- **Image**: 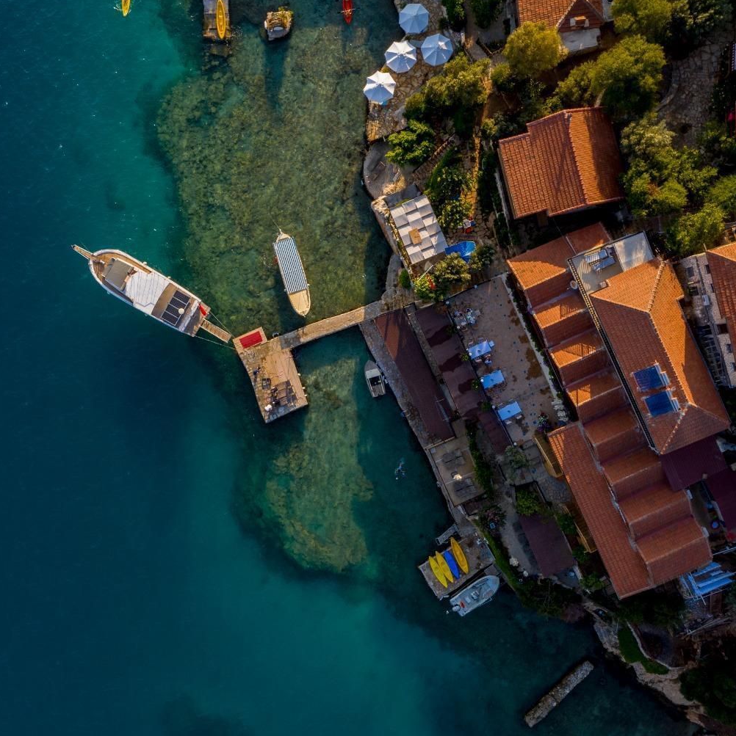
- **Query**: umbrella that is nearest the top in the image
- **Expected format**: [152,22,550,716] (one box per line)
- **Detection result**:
[398,5,429,36]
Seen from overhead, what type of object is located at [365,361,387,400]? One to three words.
boat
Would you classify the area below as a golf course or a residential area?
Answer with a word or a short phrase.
residential area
